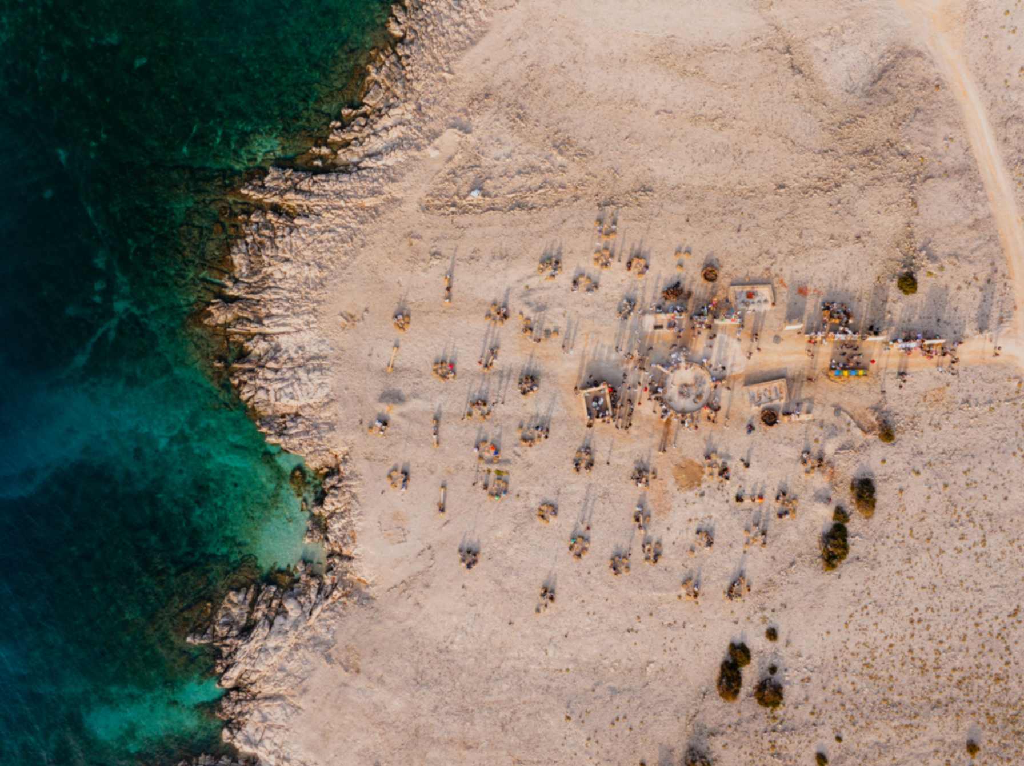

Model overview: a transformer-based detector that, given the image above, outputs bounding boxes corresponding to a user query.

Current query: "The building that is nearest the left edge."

[581,382,614,422]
